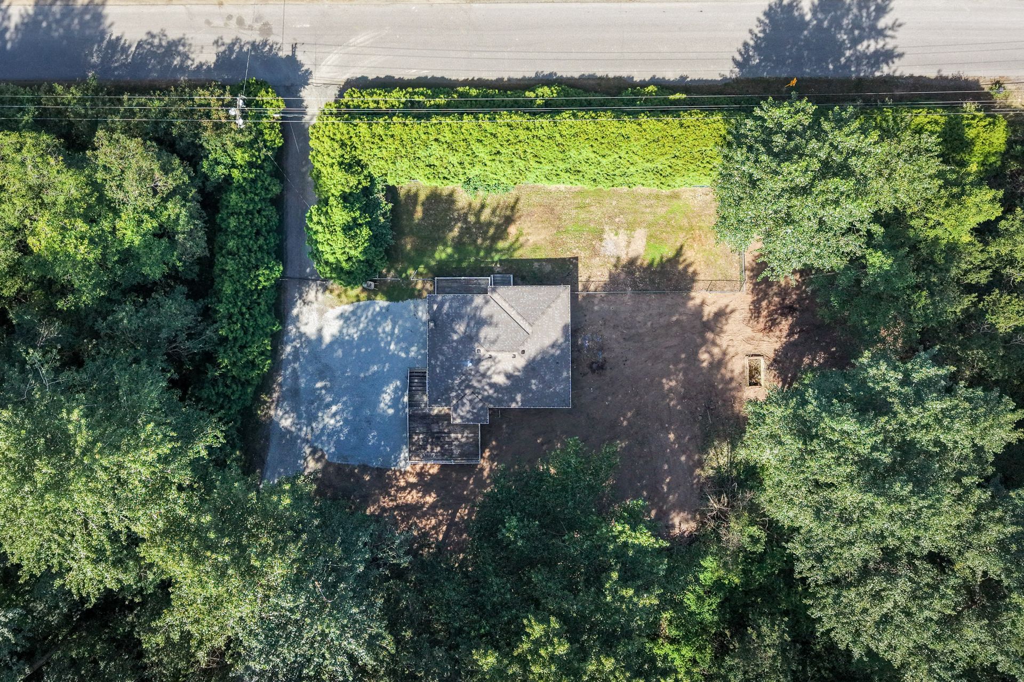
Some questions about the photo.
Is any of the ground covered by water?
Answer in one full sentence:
No, water can't be seen anywhere here.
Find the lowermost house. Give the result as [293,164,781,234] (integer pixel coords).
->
[426,285,572,425]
